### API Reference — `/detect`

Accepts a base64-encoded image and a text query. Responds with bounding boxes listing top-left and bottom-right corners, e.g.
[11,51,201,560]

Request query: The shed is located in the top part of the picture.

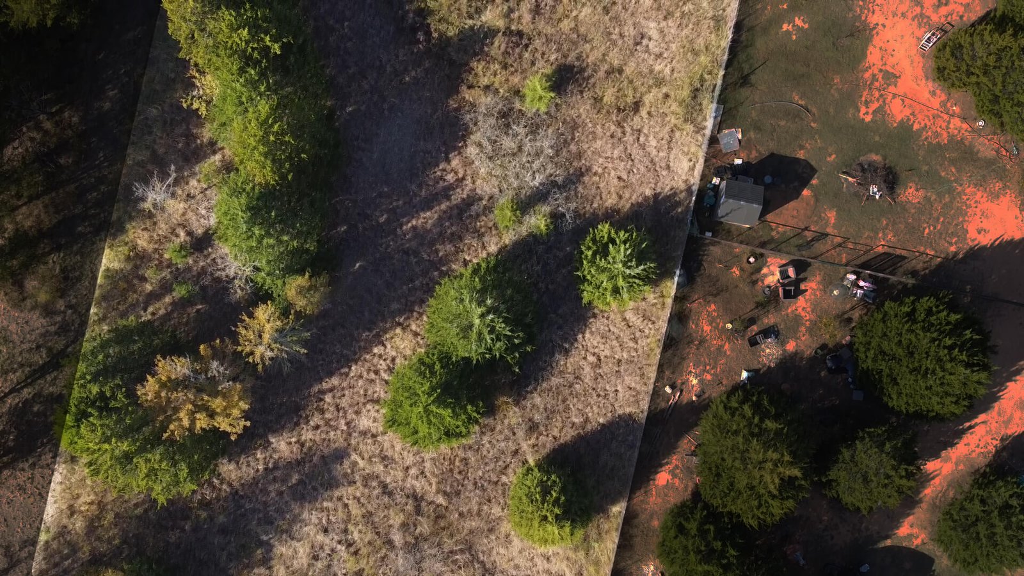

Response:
[707,181,762,228]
